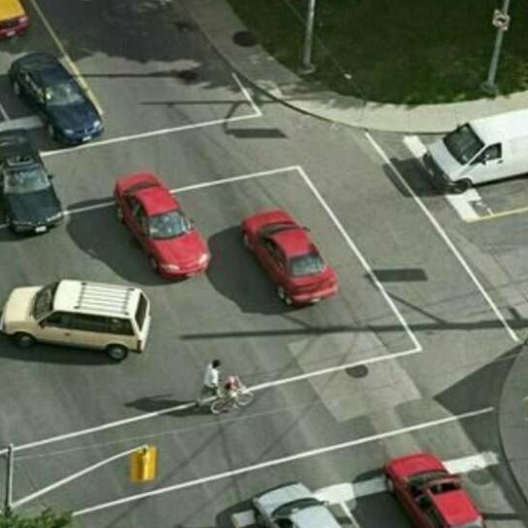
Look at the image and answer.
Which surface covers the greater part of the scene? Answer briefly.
paved ground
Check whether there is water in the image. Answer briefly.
No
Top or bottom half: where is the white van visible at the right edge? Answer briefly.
top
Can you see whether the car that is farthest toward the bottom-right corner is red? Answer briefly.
Yes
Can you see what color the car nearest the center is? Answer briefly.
red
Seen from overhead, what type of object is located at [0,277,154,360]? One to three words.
car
